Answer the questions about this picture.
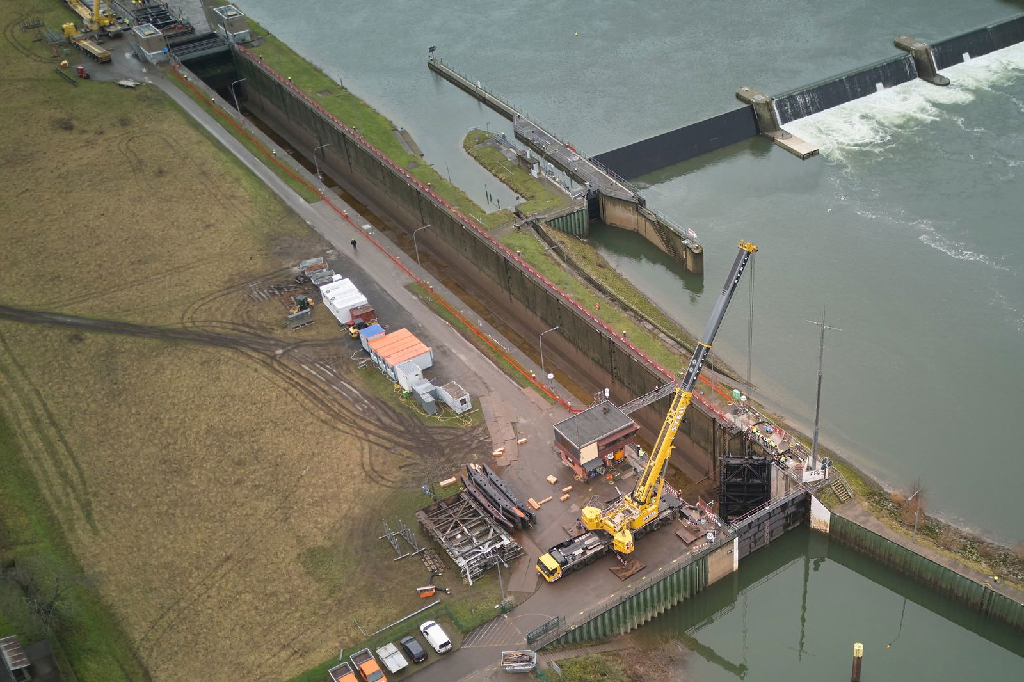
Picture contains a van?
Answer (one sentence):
Yes, this view includes a van.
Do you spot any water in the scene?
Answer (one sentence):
Yes, water can be seen from above here.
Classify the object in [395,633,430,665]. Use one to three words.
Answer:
car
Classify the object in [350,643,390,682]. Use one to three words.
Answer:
truck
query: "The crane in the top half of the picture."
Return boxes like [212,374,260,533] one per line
[86,0,133,41]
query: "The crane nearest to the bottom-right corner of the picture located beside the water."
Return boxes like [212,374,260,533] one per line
[532,245,757,587]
